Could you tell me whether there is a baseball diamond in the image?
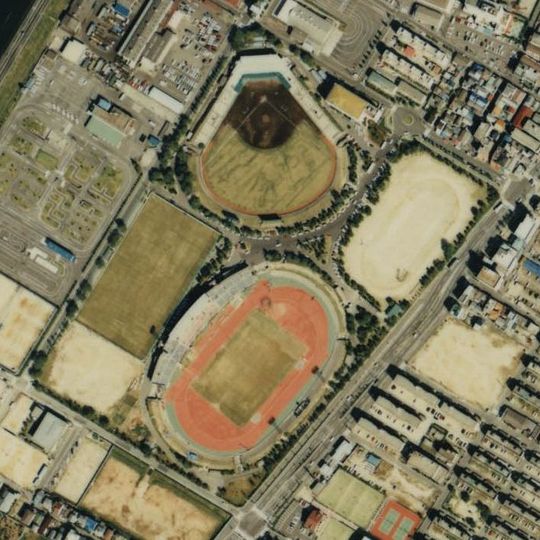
Yes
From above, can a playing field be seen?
Yes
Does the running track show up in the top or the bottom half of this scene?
bottom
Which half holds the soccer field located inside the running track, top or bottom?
bottom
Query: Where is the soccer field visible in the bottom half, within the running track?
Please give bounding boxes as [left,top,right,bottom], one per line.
[192,310,306,426]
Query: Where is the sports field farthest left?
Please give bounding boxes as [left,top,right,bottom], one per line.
[43,322,139,411]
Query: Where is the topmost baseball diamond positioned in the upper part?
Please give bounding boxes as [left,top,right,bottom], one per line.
[201,75,337,217]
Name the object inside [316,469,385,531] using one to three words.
sports field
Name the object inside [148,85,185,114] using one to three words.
shed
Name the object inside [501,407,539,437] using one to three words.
building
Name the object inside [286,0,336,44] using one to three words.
building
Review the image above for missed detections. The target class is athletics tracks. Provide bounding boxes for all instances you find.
[164,276,335,458]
